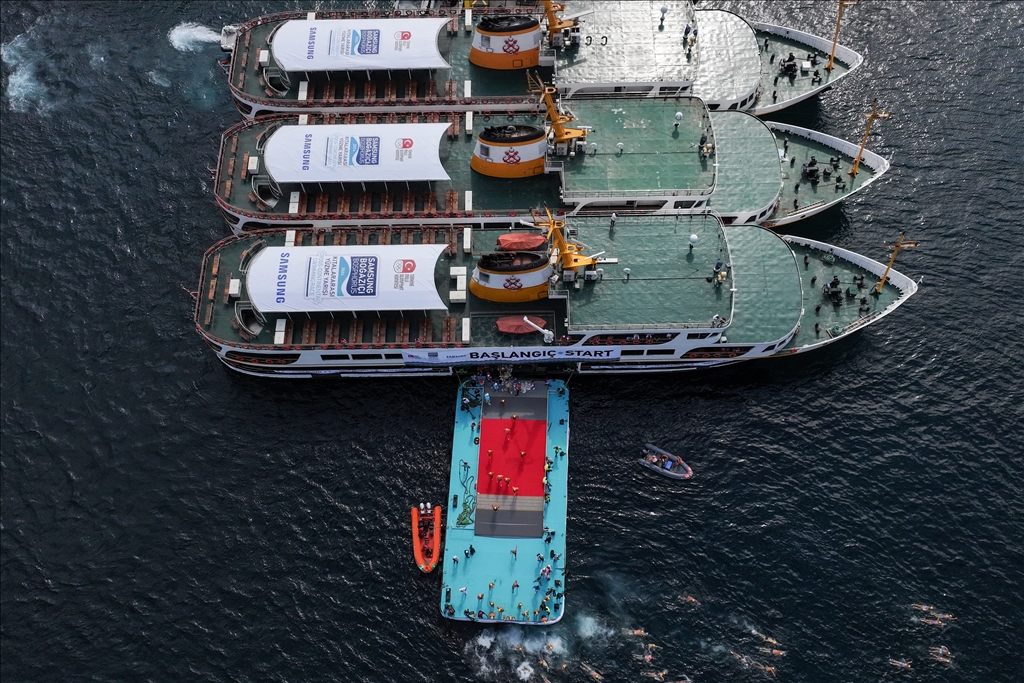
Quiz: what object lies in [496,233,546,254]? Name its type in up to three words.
boat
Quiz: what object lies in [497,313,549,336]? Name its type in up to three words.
boat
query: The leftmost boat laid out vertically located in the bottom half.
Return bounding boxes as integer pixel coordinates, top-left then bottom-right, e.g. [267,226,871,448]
[412,503,441,574]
